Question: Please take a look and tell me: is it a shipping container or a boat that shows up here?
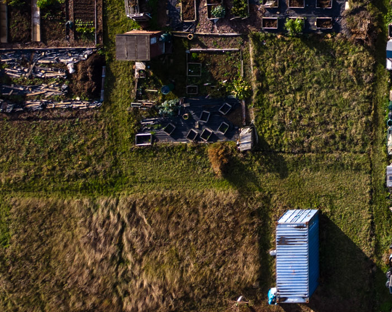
shipping container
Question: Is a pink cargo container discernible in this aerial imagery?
No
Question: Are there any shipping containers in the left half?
No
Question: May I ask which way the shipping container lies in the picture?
vertically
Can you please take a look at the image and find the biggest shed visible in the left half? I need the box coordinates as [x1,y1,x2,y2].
[116,31,164,60]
